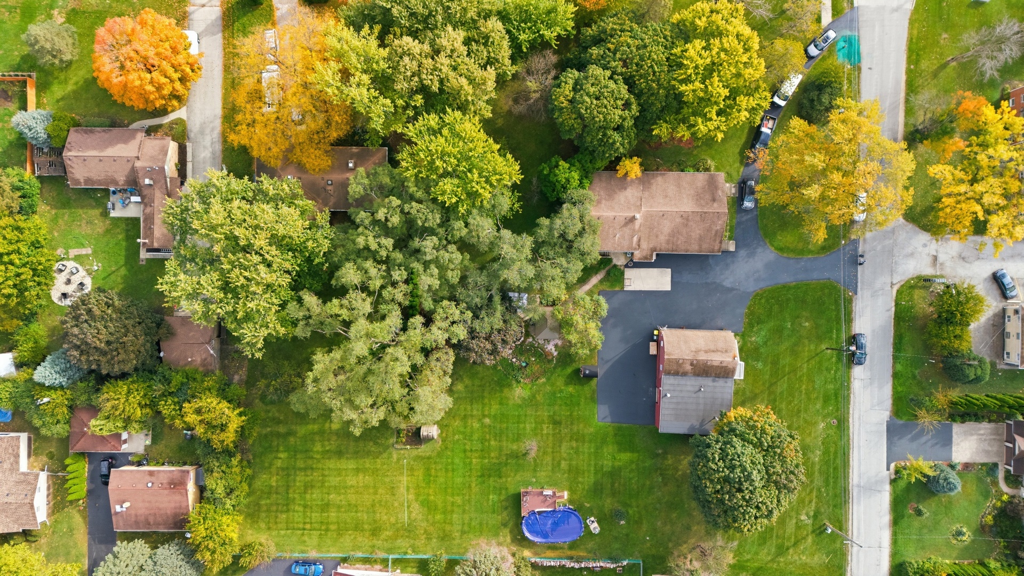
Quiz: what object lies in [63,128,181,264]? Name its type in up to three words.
house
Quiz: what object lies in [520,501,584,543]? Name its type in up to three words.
swimming pool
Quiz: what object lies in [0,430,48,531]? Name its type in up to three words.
house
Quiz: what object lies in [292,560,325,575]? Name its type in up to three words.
car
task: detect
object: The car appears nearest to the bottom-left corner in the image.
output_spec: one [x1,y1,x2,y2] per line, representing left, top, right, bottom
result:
[98,456,116,486]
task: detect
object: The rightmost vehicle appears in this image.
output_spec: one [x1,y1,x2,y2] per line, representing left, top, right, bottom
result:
[992,268,1017,300]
